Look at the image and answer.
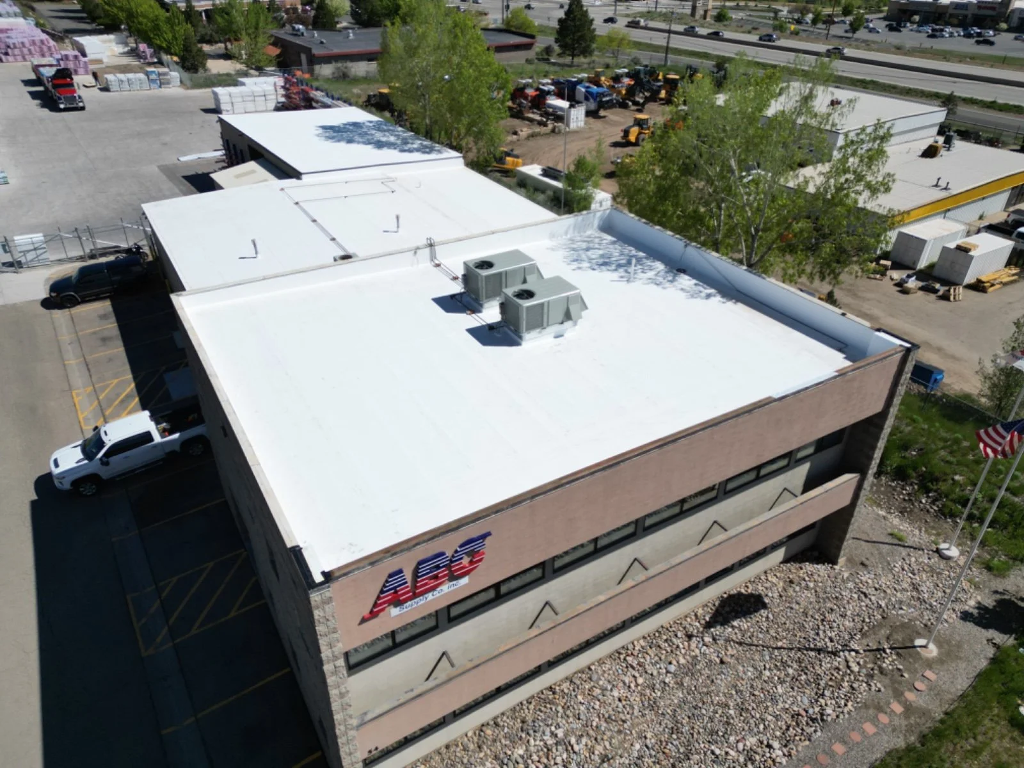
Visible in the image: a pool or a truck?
truck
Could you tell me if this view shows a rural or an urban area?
urban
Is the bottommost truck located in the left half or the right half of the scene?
left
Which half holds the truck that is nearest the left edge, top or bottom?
top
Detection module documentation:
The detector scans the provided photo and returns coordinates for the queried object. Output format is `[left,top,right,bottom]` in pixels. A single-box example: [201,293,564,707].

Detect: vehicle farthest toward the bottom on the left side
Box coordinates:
[48,404,210,490]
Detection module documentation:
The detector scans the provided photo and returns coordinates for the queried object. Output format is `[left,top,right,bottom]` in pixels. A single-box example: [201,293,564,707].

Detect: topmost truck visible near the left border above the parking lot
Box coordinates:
[41,75,84,109]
